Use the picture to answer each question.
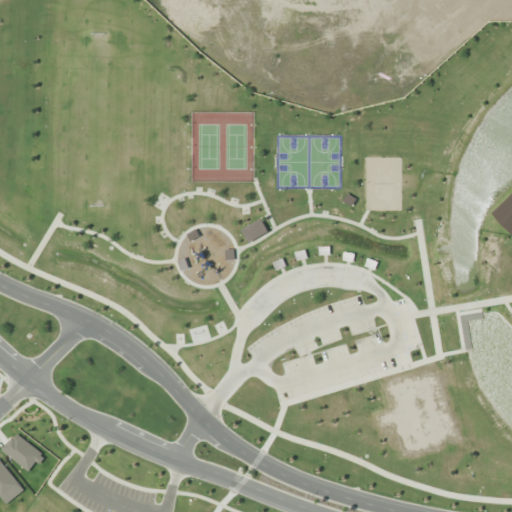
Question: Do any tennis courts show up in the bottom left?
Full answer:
No, no tennis court can be made out in the bottom left.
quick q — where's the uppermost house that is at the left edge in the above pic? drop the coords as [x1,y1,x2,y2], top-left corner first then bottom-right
[2,435,45,471]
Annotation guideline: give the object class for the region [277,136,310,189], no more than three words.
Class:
basketball court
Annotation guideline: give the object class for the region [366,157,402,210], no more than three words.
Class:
sports court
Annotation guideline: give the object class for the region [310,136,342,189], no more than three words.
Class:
basketball court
